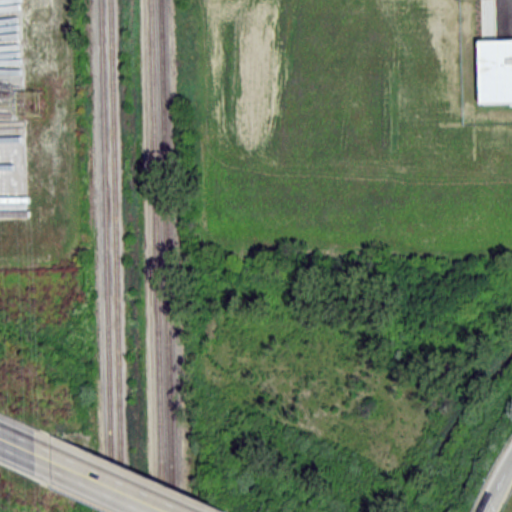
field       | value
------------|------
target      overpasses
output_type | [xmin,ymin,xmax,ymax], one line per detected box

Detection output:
[34,427,225,512]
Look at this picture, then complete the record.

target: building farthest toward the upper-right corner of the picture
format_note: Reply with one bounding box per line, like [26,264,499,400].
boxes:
[477,41,512,110]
